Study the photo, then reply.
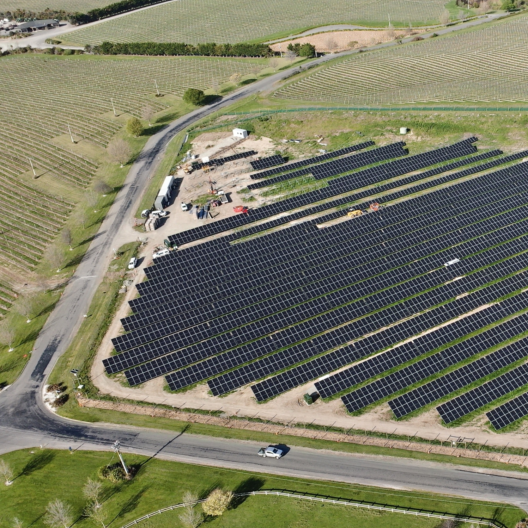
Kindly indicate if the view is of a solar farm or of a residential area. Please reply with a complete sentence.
The picture captures a solar farm.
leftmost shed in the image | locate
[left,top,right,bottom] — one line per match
[7,17,66,32]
